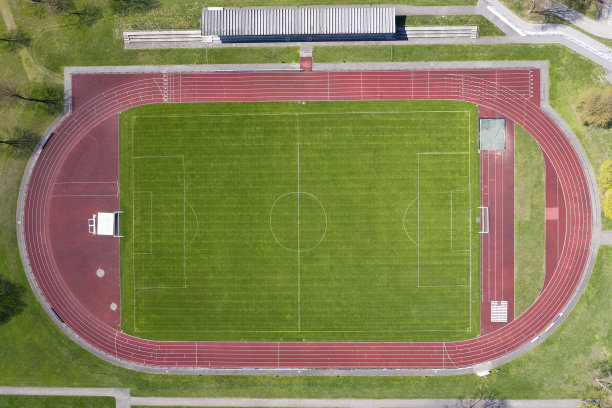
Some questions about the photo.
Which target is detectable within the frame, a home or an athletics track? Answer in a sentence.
There is an athletics track in the scene.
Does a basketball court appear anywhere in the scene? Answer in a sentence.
No, I can see no basketball court in this picture.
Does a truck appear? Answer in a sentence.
No, the photo shows no truck.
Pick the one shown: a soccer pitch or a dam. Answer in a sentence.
There is a soccer pitch in the scene.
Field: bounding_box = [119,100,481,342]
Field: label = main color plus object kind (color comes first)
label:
green soccer field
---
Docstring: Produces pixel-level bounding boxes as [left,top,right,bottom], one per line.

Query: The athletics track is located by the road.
[23,57,592,367]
